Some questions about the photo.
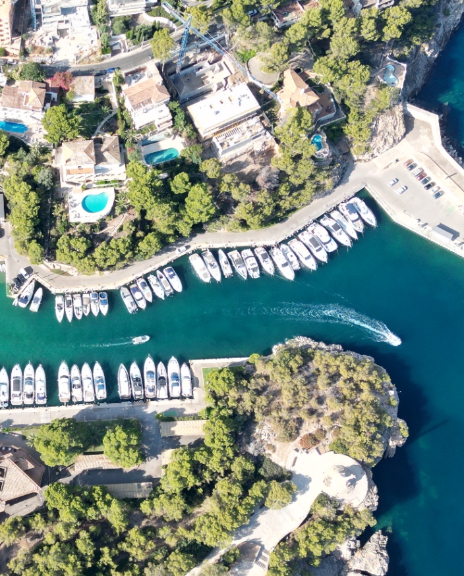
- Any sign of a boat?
Yes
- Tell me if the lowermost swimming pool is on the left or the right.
left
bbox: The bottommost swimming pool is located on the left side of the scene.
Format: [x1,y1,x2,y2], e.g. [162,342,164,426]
[81,191,109,214]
